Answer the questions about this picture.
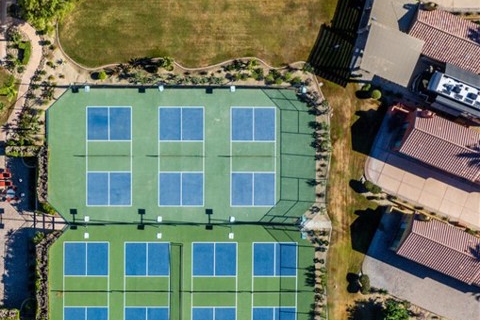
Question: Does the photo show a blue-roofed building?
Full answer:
No, no blue-roofed building can be seen from above.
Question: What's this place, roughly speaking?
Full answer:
This image shows a sports ground.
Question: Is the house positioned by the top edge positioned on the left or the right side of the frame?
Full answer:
The house positioned by the top edge sits on the right side.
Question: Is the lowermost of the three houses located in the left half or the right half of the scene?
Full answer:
The lowermost of the three houses sits on the right side.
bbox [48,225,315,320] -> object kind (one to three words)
sports court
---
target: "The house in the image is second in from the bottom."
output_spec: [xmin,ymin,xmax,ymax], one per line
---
[391,104,480,186]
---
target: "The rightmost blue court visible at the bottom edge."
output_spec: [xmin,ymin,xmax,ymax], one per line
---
[252,241,302,320]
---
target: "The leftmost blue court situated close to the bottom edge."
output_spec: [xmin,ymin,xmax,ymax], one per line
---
[62,241,112,320]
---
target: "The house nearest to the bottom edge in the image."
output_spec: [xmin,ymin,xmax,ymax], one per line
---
[388,207,480,286]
